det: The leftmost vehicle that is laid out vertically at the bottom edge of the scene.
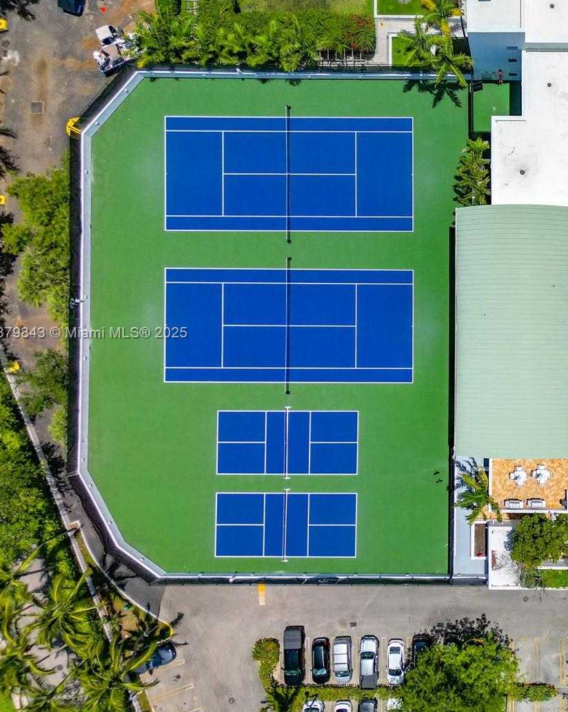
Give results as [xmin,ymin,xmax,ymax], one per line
[280,624,306,686]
